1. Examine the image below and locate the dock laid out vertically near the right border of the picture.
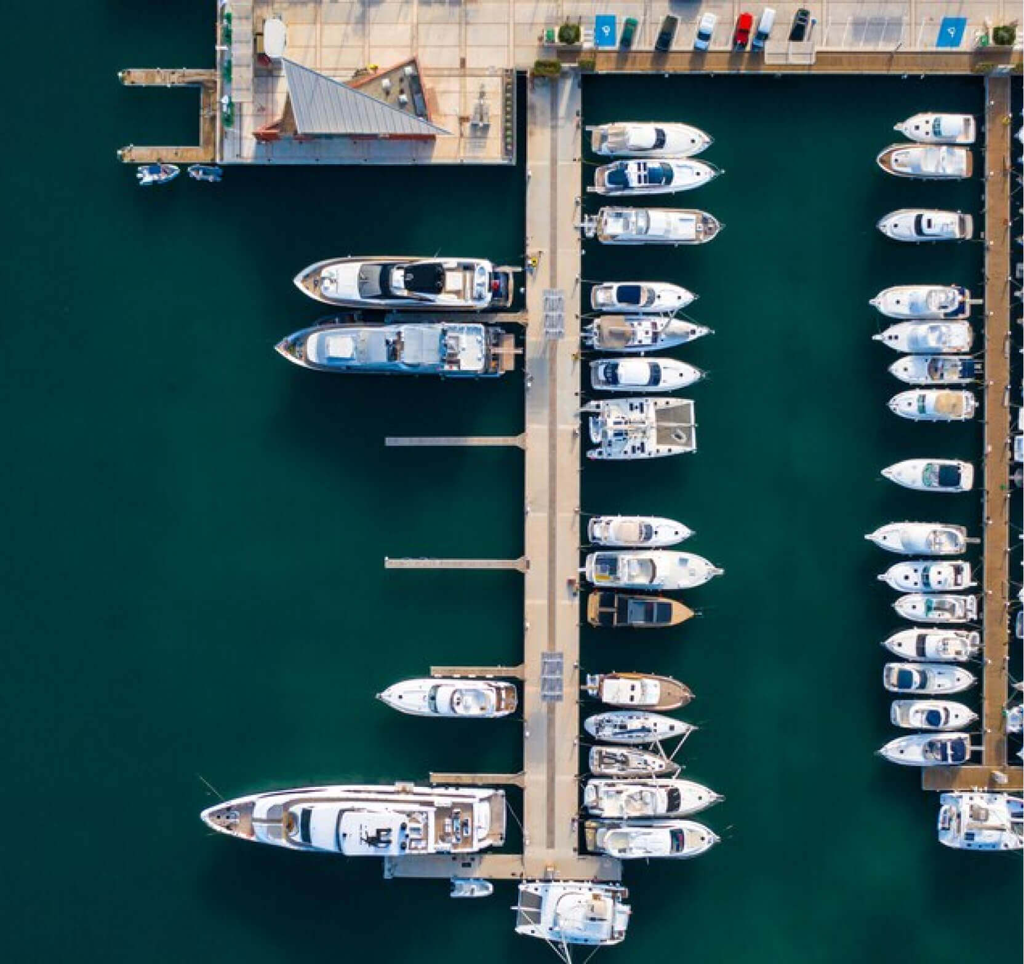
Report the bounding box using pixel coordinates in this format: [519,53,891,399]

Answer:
[921,75,1024,790]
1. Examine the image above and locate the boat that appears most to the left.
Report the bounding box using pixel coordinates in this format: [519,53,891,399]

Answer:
[133,163,179,183]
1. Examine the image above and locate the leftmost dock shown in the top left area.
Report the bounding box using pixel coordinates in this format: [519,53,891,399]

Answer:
[118,66,219,164]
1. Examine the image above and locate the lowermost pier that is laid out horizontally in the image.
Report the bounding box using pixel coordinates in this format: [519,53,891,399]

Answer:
[429,769,522,787]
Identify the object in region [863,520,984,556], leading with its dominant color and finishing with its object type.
white boat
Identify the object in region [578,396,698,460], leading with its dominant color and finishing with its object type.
white boat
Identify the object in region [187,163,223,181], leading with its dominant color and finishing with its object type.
blue boat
